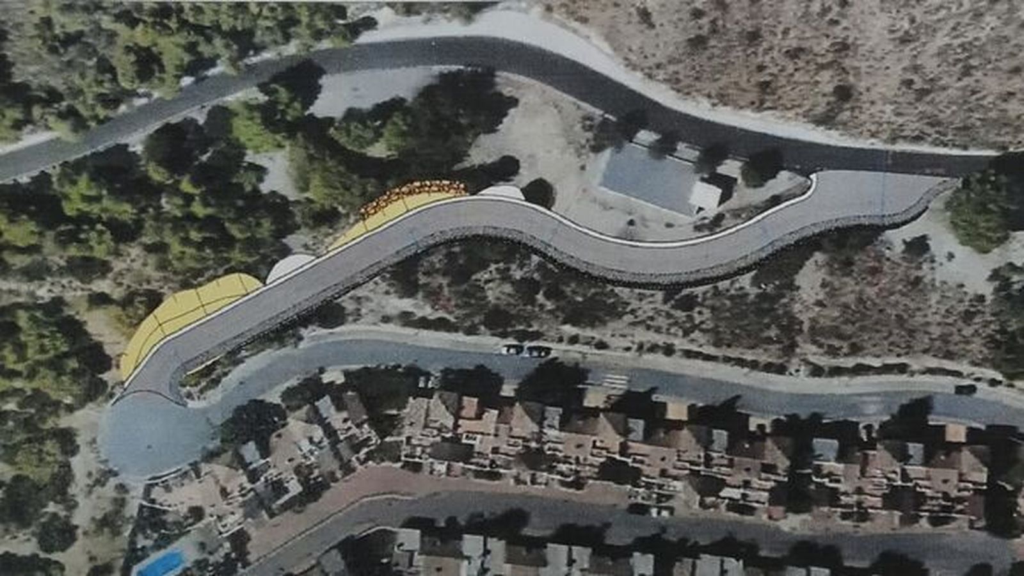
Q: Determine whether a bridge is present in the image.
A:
No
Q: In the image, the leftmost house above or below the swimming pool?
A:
above it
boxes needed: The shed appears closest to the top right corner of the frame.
[688,182,722,213]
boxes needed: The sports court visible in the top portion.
[594,141,704,217]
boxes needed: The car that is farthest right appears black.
[954,383,978,395]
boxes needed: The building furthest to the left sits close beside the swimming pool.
[153,451,264,530]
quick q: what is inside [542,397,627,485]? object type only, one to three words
house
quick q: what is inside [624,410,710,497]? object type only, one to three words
house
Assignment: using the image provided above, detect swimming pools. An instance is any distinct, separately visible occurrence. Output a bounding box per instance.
[129,549,193,576]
